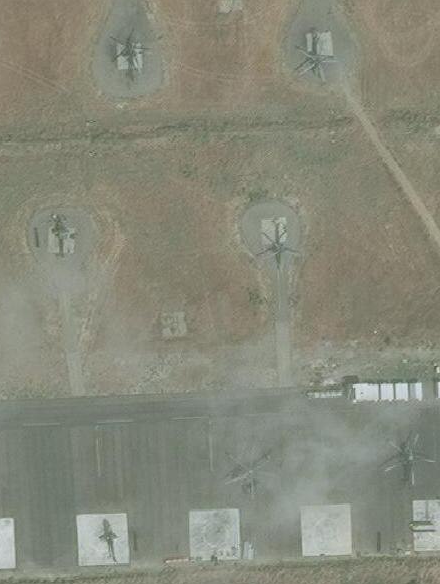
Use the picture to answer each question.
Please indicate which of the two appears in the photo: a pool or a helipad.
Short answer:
helipad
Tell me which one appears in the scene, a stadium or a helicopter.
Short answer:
helicopter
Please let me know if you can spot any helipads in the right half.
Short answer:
Yes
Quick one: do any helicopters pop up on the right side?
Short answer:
Yes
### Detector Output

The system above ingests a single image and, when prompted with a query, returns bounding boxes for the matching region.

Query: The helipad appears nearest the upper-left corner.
[117,43,143,70]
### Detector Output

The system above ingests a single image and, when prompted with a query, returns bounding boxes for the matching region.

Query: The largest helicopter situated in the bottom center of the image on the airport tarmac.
[226,436,277,498]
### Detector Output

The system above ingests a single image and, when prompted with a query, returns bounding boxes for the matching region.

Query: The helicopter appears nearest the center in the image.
[252,216,303,274]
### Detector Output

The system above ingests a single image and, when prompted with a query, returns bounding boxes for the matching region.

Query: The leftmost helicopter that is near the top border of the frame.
[107,24,156,85]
